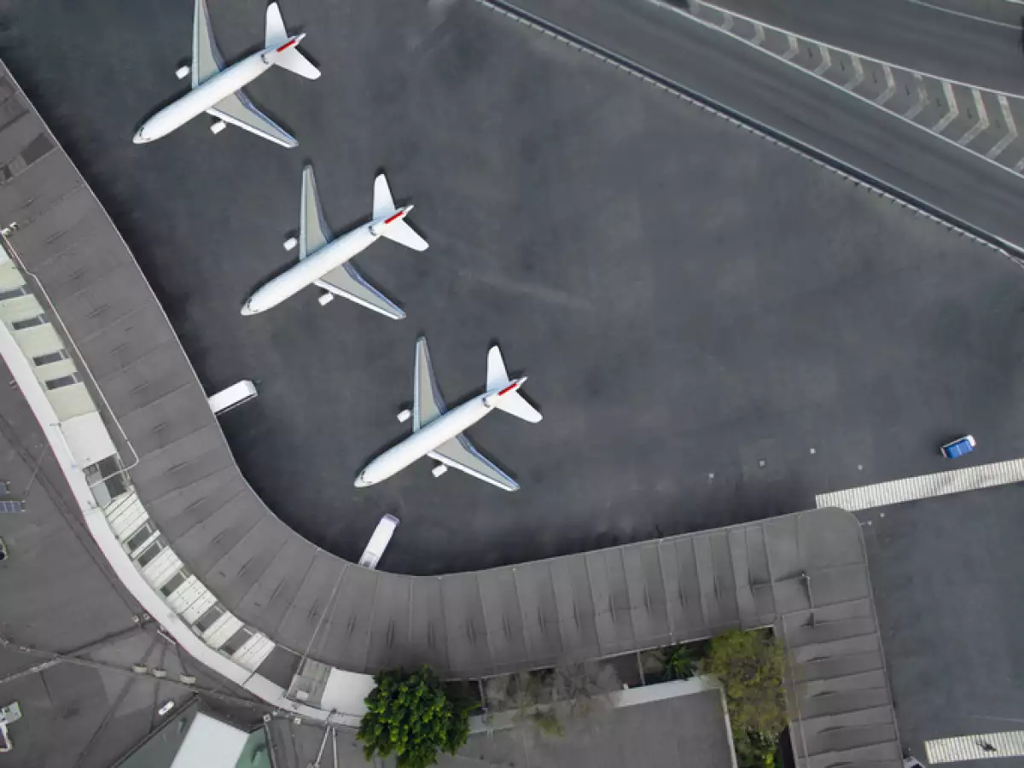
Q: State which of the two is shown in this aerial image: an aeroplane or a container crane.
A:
aeroplane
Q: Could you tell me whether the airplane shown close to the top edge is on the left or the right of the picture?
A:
left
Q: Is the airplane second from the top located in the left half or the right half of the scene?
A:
left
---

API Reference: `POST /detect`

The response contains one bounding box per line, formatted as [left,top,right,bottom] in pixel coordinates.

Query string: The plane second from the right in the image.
[241,163,431,320]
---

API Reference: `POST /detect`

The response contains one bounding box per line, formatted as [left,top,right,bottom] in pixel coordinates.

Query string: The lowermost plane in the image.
[355,334,545,491]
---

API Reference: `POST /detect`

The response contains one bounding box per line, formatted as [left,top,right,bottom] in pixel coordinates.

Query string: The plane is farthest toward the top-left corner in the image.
[133,0,322,149]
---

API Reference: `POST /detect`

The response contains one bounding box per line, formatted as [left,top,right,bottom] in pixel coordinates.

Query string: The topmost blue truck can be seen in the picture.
[938,436,976,460]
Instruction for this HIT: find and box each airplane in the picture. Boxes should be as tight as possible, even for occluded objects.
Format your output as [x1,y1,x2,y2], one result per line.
[355,334,545,491]
[133,0,322,149]
[241,163,431,320]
